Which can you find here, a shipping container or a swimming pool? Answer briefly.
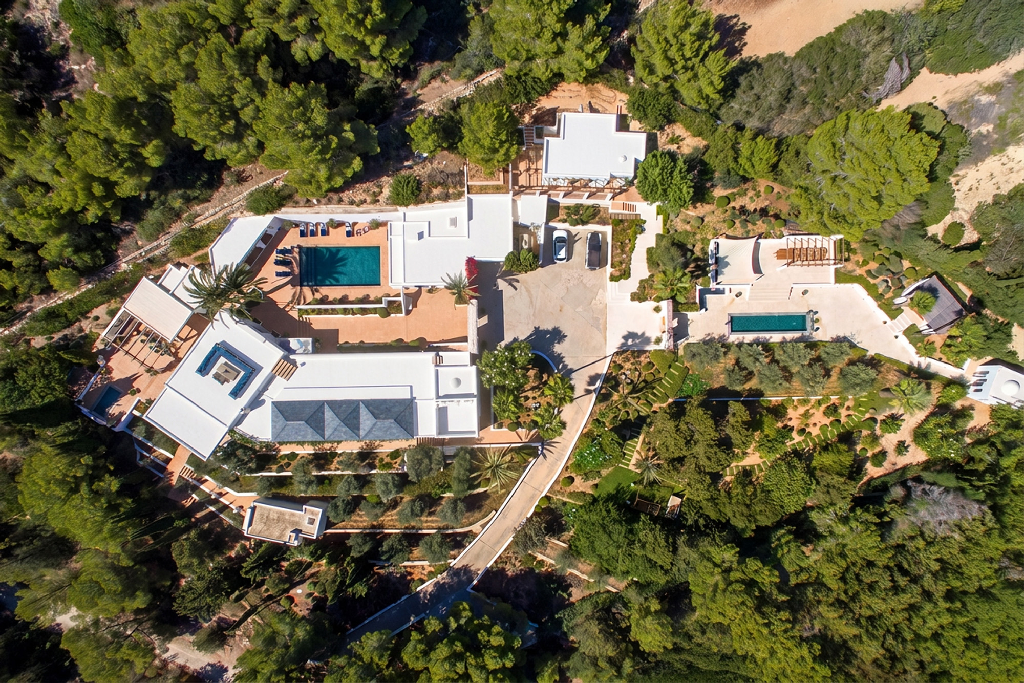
swimming pool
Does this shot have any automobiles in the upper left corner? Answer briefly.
No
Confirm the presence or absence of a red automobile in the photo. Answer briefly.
No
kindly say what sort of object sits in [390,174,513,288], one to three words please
building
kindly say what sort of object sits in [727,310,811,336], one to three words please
swimming pool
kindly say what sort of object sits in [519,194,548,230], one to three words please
shed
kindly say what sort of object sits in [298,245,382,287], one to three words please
swimming pool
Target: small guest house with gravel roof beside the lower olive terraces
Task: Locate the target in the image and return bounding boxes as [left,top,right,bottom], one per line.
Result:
[243,496,329,545]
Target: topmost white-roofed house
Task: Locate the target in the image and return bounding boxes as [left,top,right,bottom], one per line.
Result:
[542,113,646,186]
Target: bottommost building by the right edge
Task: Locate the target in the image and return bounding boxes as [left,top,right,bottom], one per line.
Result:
[958,361,1024,420]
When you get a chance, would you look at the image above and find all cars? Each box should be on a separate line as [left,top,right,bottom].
[553,230,569,263]
[585,231,603,271]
